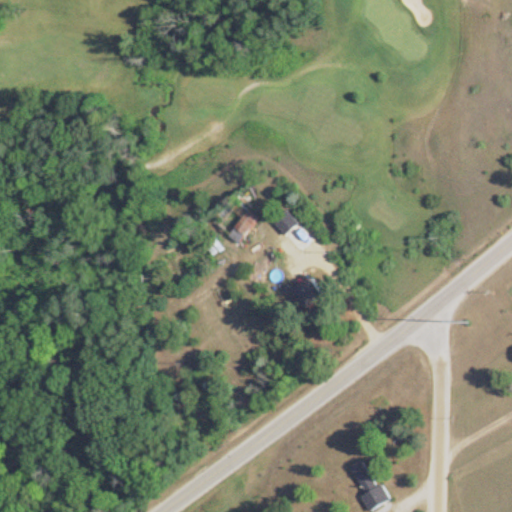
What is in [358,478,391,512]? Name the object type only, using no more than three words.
house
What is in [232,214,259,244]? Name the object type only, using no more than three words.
house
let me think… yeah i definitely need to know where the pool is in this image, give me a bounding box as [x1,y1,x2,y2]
[269,267,285,283]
